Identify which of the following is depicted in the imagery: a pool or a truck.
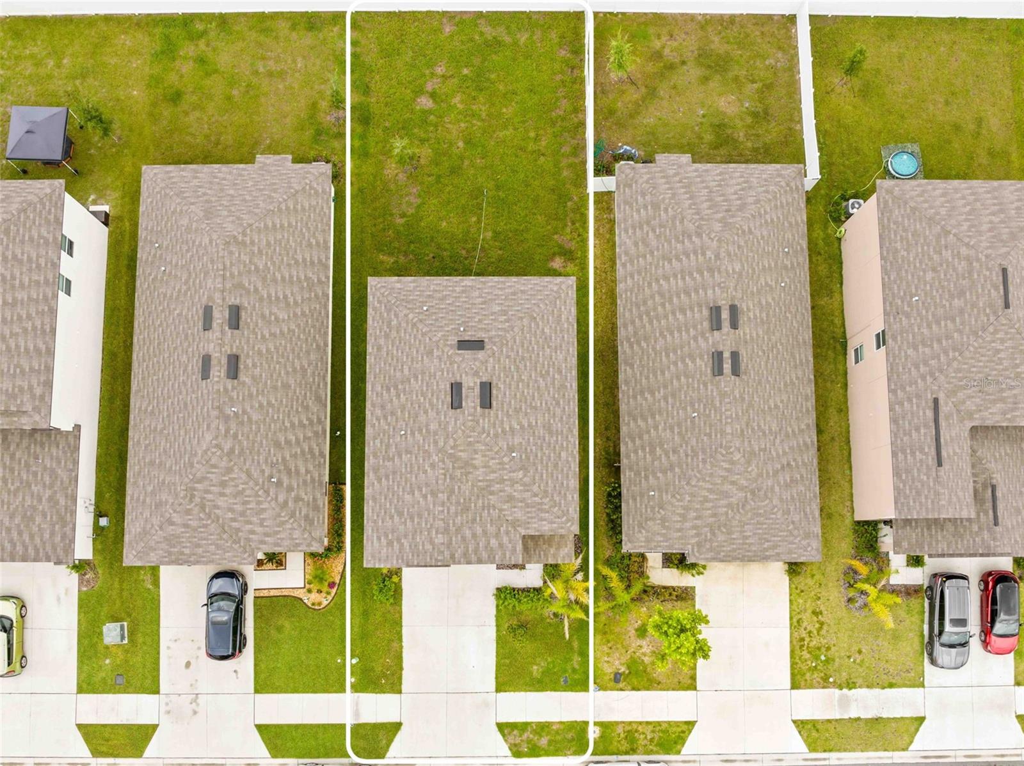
pool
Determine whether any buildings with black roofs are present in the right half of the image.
No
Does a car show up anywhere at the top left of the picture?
No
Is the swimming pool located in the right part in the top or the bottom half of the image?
top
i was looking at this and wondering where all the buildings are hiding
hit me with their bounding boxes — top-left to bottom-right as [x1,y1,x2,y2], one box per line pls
[362,275,581,567]
[614,155,825,563]
[0,178,110,563]
[840,178,1024,559]
[120,156,335,568]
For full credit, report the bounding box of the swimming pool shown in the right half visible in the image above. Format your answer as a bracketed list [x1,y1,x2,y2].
[889,152,919,179]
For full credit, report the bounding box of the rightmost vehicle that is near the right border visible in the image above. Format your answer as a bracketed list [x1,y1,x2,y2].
[974,568,1024,654]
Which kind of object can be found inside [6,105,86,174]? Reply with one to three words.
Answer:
tent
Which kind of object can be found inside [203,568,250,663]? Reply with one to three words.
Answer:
car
